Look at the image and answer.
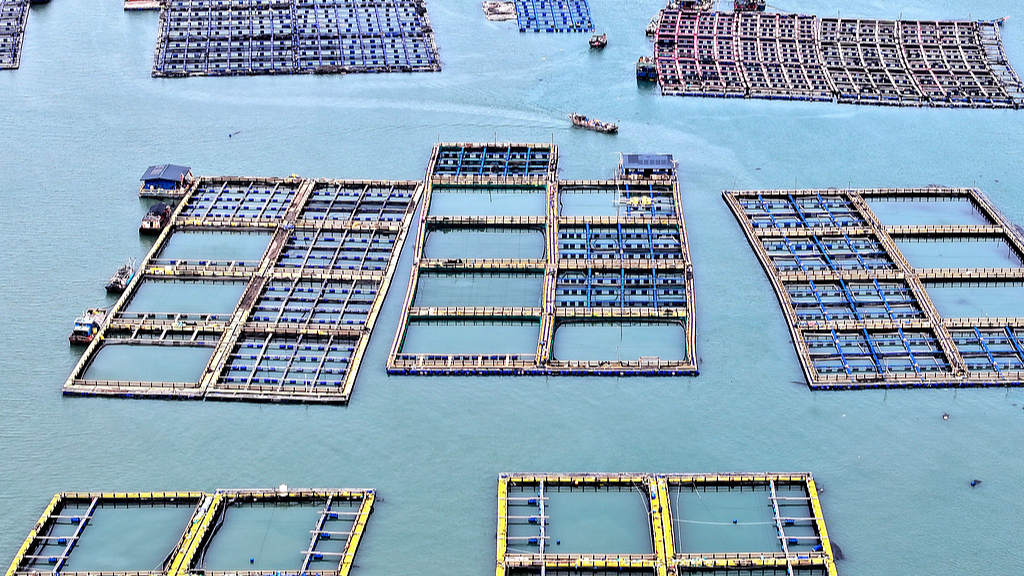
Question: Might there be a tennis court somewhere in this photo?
No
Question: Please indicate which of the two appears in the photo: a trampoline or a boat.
boat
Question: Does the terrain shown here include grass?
No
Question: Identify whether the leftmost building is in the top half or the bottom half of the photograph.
top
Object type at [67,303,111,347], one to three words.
boat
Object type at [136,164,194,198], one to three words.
building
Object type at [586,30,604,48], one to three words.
boat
